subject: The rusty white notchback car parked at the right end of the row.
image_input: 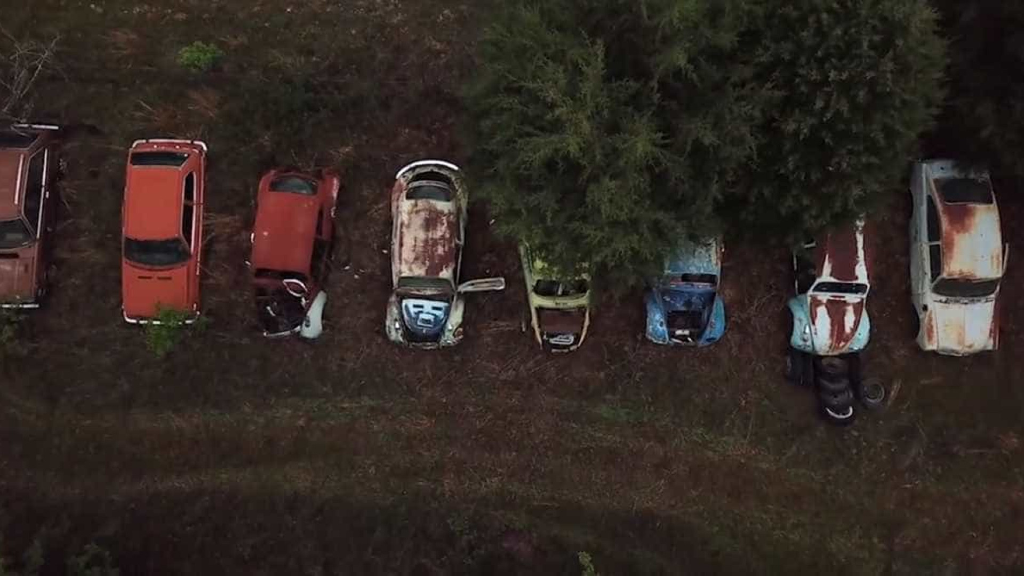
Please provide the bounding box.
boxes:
[905,162,1006,355]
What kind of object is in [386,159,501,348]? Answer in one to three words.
car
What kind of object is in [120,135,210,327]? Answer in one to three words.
car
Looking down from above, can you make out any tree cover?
Yes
